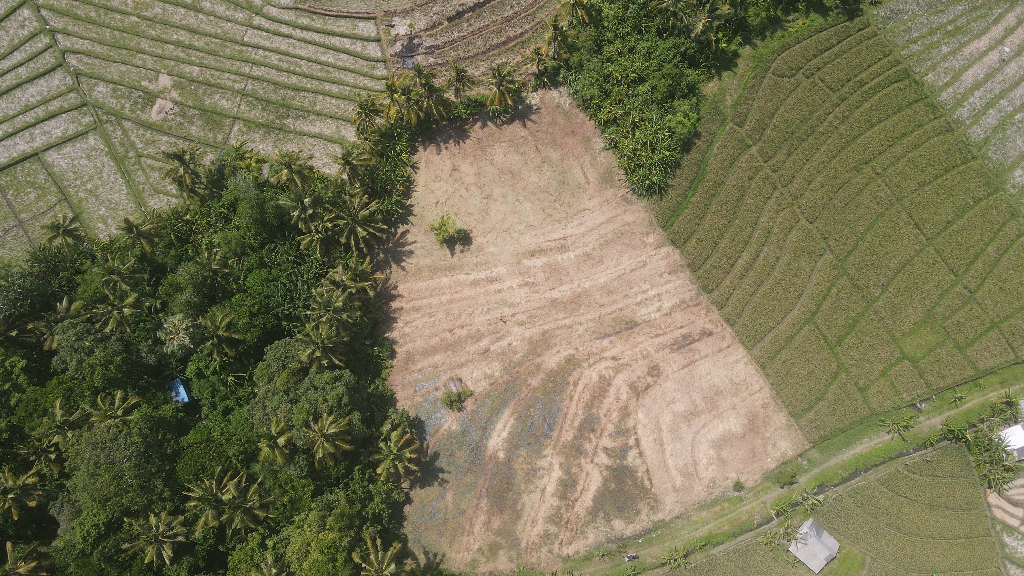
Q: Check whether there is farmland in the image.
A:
Yes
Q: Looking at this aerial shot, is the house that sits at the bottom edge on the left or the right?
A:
right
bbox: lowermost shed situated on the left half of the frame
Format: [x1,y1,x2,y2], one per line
[169,377,197,407]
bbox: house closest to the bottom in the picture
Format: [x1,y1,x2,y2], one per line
[785,516,840,574]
